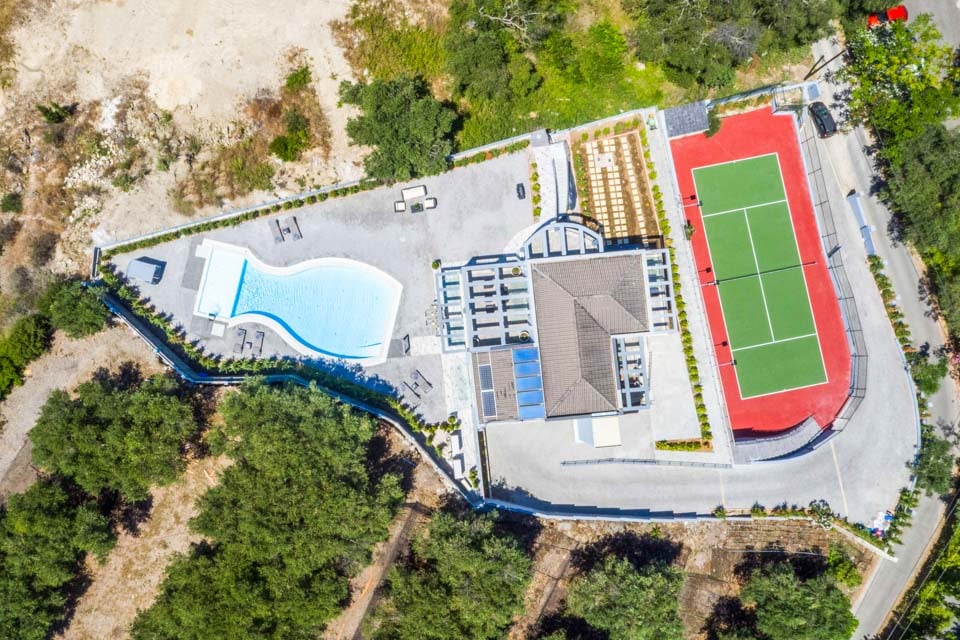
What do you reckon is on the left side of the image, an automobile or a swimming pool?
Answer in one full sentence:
There is a swimming pool on the left side of the image.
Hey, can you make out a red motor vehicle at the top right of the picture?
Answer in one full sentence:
Yes, a red motor vehicle shows up at the top right of the picture.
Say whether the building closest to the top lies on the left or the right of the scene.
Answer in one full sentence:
The building closest to the top is on the right side of the image.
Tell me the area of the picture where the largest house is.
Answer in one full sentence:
The largest house is located in the center region of the scene.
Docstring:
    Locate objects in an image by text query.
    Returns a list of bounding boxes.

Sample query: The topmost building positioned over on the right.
[664,99,709,140]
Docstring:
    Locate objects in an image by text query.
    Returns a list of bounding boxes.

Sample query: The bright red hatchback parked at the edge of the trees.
[868,0,915,28]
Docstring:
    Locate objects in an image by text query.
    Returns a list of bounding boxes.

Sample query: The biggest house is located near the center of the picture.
[436,220,680,426]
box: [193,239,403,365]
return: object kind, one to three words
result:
swimming pool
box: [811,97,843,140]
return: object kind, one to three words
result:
car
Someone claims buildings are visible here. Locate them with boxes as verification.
[664,99,709,140]
[436,220,680,426]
